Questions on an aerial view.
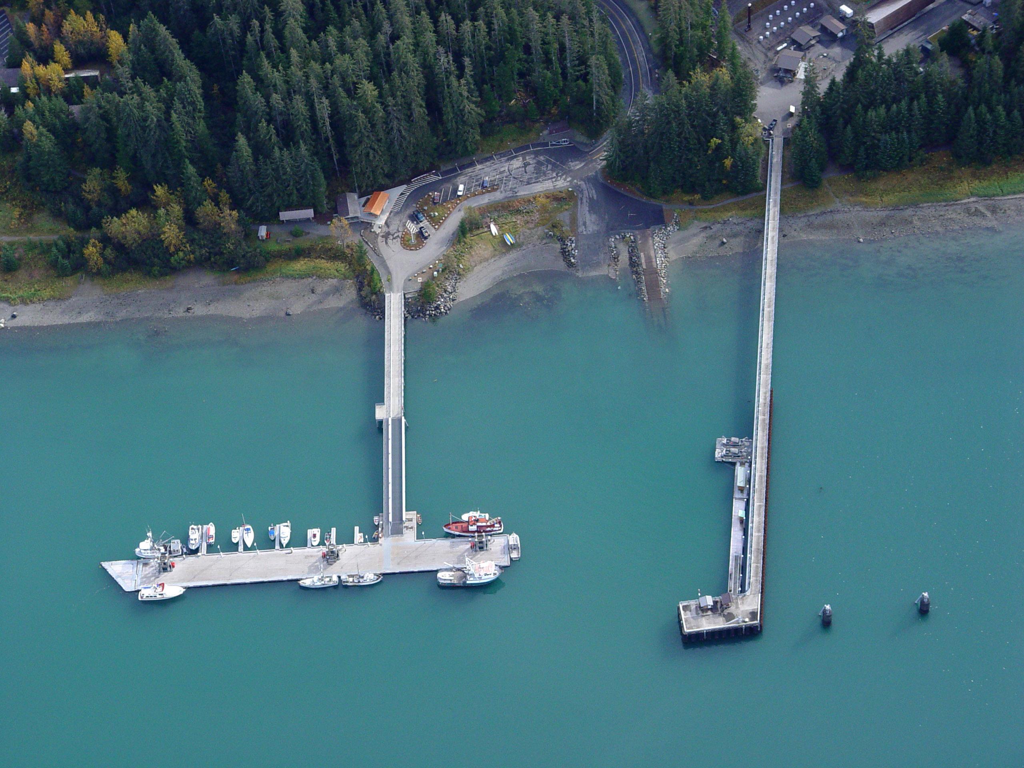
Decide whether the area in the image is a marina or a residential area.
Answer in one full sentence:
It's a marina.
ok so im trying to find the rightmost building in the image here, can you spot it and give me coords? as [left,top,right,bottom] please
[961,2,1001,33]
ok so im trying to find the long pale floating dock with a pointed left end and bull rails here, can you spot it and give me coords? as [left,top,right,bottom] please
[101,534,510,593]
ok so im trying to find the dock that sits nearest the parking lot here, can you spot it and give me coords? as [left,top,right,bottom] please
[384,290,405,418]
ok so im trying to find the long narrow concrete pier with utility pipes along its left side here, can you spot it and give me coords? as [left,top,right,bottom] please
[745,136,783,595]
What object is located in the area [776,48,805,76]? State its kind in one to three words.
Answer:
shed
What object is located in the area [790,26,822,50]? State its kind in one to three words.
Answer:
shed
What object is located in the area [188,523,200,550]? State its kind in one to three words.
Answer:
boat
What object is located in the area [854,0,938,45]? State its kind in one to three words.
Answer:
building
